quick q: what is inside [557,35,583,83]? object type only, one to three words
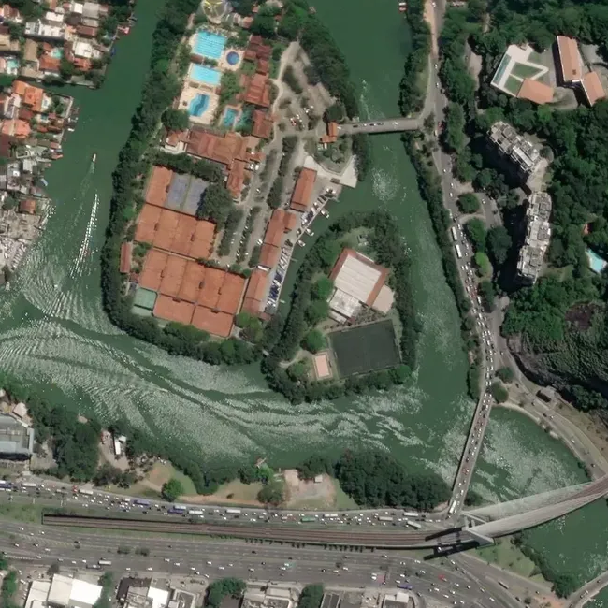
building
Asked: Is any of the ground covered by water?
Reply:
Yes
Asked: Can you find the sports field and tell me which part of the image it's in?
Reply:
center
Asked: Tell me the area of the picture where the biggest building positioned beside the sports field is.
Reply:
center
